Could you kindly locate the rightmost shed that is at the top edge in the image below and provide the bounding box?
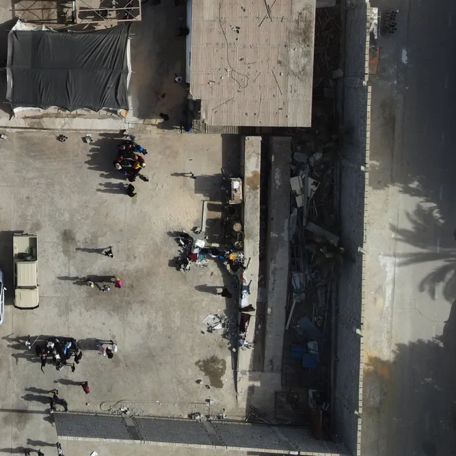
[187,0,315,129]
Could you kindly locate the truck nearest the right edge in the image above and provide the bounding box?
[11,234,42,310]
